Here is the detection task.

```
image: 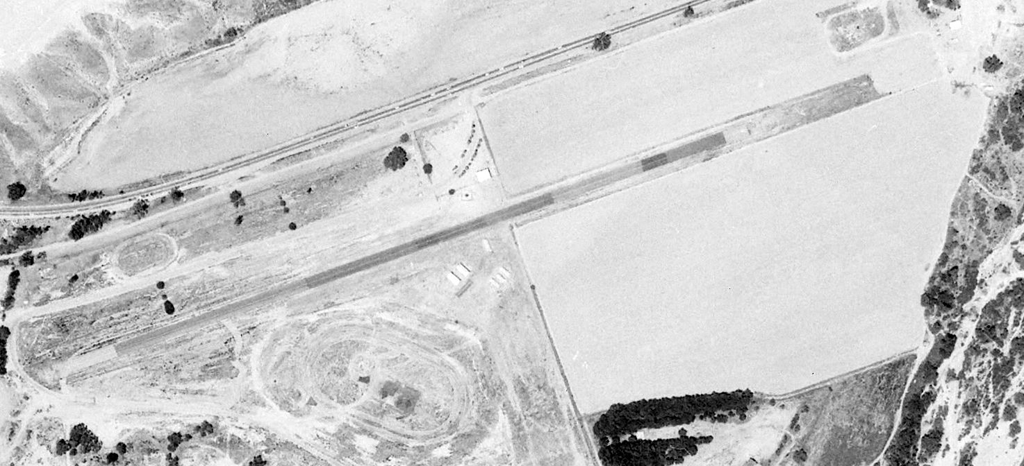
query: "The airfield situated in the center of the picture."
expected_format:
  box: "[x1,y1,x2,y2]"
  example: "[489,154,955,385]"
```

[67,75,889,383]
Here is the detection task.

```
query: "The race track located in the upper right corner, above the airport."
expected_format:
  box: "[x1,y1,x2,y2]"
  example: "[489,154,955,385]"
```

[823,2,891,57]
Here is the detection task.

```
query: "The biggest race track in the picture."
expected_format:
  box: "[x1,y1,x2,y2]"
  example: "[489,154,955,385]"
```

[304,323,467,446]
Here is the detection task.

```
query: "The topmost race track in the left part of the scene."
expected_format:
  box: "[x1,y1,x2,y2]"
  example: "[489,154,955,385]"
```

[115,233,180,276]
